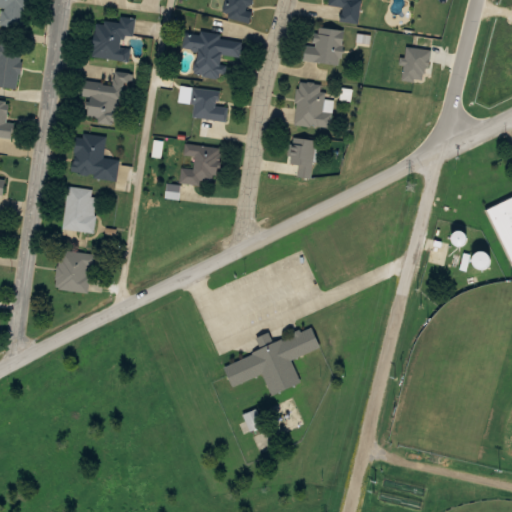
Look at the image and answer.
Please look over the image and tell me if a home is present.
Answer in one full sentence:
Yes, a home appears in the view.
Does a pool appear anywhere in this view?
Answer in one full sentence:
Yes, I can see a pool in this picture.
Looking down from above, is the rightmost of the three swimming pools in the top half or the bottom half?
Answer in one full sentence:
It is in the top half that the rightmost of the three swimming pools appears.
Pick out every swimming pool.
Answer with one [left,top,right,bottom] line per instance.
[180,52,197,75]
[385,0,411,27]
[126,36,144,62]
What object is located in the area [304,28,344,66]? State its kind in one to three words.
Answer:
house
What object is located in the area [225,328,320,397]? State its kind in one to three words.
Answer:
building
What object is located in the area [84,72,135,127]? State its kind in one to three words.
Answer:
house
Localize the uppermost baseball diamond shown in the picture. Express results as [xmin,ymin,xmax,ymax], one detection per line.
[390,281,512,474]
